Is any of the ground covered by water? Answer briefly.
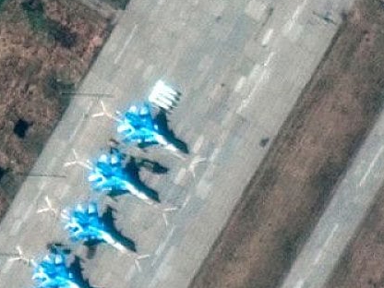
No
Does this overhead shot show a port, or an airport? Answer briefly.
airport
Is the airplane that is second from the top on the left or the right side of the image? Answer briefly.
left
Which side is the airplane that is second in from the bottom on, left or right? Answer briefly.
left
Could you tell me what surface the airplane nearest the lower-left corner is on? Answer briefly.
apron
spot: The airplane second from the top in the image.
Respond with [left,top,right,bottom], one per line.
[84,155,149,199]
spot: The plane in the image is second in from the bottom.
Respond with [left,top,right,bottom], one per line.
[62,205,125,249]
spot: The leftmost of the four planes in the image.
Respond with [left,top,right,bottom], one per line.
[29,254,80,288]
